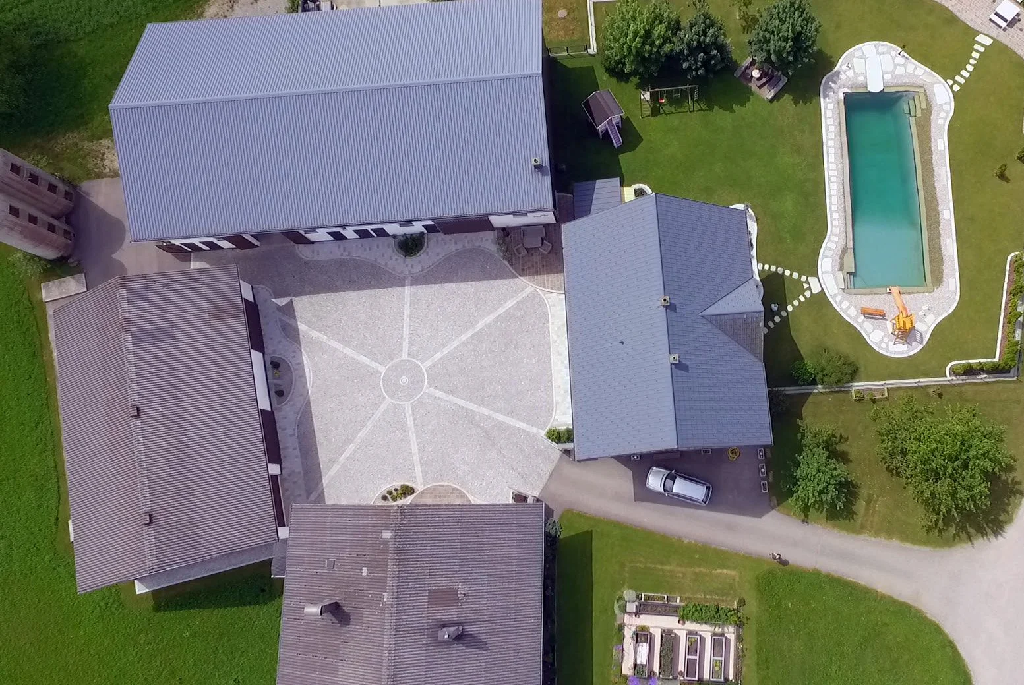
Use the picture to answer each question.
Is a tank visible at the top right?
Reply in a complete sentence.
No, I can find no tank at the top right.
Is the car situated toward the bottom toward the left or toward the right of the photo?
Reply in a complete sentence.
It is on the right.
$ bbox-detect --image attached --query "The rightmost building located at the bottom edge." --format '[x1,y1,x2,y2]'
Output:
[276,501,547,685]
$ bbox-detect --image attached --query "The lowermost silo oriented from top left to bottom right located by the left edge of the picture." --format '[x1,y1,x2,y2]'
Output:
[0,187,72,254]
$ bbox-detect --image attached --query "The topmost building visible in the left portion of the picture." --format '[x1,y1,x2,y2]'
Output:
[112,0,556,251]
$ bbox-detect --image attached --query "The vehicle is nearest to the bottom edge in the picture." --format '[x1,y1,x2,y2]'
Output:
[646,466,714,507]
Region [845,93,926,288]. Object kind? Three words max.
swimming pool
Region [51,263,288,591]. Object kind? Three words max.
barn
